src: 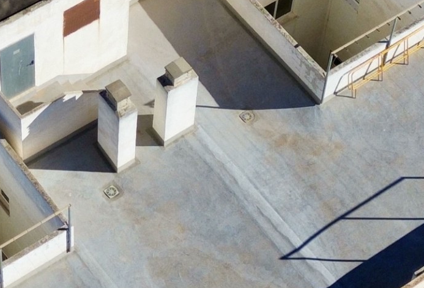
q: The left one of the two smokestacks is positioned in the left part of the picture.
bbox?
[91,78,142,178]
